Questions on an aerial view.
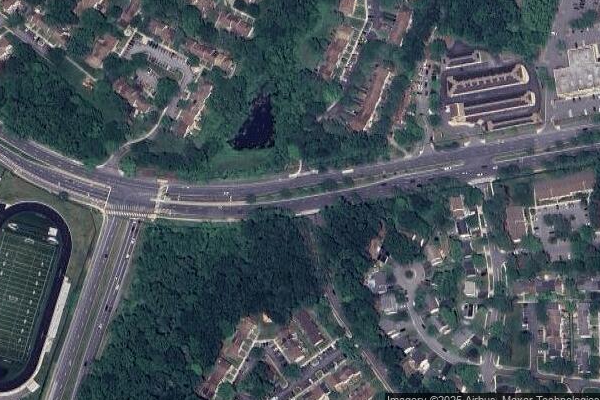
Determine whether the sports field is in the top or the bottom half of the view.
bottom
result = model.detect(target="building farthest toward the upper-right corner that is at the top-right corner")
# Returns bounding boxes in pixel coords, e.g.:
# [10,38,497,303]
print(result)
[554,44,600,100]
